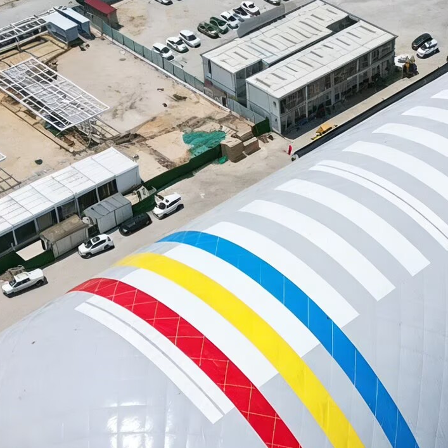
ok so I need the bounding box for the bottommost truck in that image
[2,266,45,296]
